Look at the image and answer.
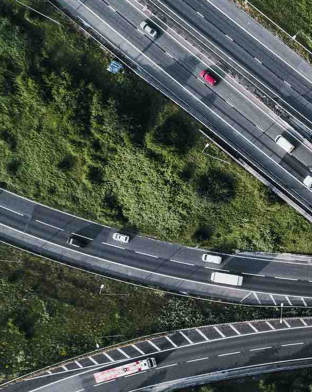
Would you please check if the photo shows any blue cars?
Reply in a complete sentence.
No, no blue car is visible in the scene.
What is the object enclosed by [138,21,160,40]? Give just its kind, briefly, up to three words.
car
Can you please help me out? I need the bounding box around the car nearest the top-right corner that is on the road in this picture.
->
[199,69,221,88]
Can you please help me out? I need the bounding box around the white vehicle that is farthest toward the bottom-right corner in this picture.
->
[211,271,246,287]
